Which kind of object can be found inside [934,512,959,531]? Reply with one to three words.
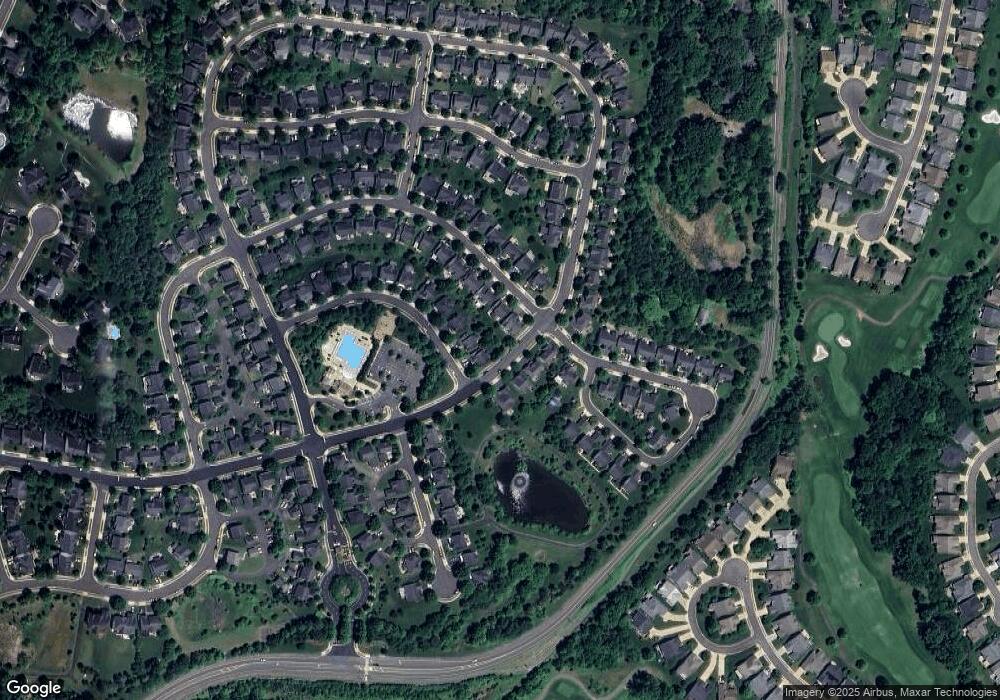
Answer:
house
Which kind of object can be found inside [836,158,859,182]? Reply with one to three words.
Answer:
house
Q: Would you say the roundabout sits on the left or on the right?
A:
left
